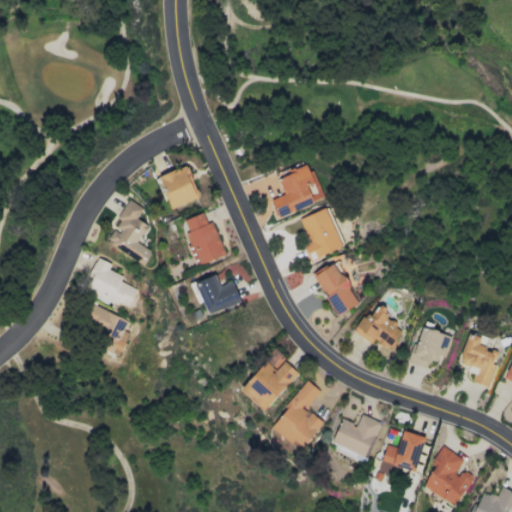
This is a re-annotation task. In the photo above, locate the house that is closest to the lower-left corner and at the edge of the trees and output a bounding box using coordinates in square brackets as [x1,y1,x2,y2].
[92,300,134,354]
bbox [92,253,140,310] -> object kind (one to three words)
house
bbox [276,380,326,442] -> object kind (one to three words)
house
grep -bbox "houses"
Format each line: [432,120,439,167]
[332,413,384,464]
[244,361,300,410]
[428,450,476,508]
[276,380,326,442]
[300,208,345,262]
[462,334,512,389]
[376,430,427,482]
[481,486,512,512]
[353,304,406,346]
[190,276,244,314]
[156,166,200,208]
[107,198,153,264]
[314,264,360,316]
[186,213,226,264]
[92,300,134,354]
[408,322,456,370]
[270,162,327,220]
[92,253,140,310]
